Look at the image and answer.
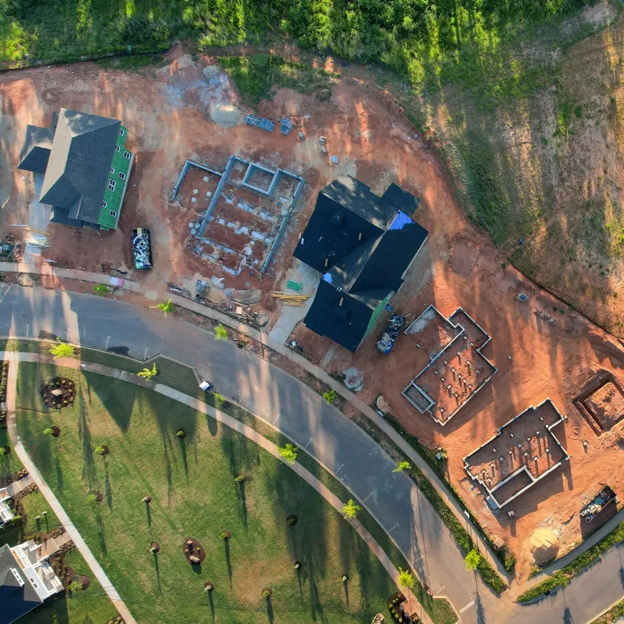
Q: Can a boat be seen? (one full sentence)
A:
No, there is no boat in the image.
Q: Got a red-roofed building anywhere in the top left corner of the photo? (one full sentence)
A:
No, no red-roofed building is visible in the top left corner of the photo.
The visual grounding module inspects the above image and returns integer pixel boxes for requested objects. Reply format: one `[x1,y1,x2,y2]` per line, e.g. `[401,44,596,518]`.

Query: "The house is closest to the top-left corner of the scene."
[18,107,136,231]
